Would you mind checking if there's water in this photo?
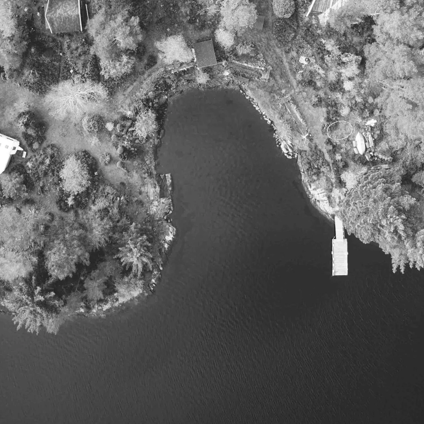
Yes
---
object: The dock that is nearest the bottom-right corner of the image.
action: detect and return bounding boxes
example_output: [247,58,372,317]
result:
[331,239,349,277]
